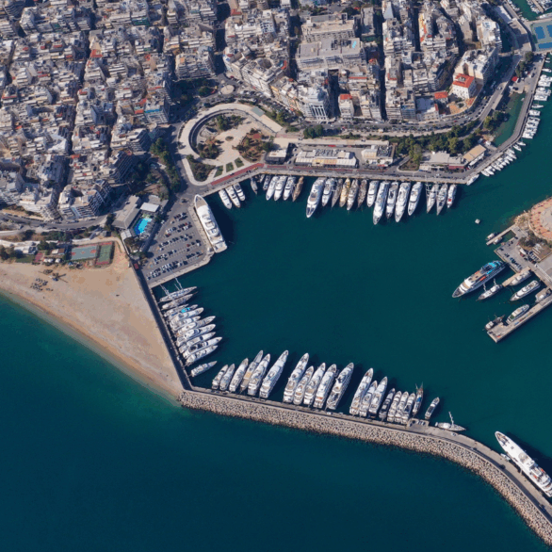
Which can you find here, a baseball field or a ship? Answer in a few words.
ship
